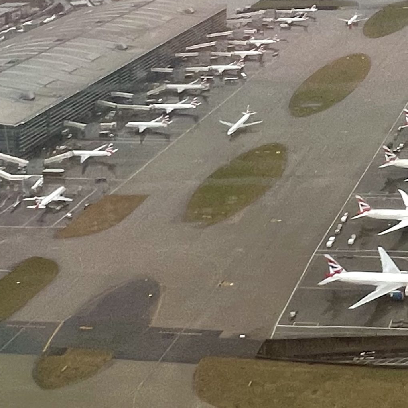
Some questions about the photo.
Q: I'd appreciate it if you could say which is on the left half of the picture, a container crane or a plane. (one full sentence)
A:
Visible on the left half of the picture is a plane.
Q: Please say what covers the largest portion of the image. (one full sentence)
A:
What you mostly see from above here is paved ground.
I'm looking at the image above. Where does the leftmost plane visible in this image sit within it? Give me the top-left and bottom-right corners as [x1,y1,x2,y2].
[29,187,69,206]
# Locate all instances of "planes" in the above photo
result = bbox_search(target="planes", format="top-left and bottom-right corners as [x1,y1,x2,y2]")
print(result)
[75,143,120,162]
[277,13,310,23]
[319,248,408,312]
[354,188,408,236]
[343,13,366,23]
[220,104,263,136]
[379,146,408,168]
[210,60,248,72]
[125,115,173,132]
[29,187,69,206]
[248,34,279,46]
[231,46,265,57]
[168,77,213,94]
[152,95,202,113]
[292,5,318,13]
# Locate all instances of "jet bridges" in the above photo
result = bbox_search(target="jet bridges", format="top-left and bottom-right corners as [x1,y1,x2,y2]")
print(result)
[26,178,46,193]
[227,18,253,27]
[228,41,251,49]
[262,19,277,26]
[186,41,216,53]
[0,152,32,171]
[210,53,235,61]
[110,91,134,104]
[146,83,171,96]
[96,99,155,113]
[151,68,174,77]
[207,30,233,41]
[43,148,79,166]
[175,53,199,62]
[0,168,29,187]
[235,9,264,16]
[185,67,214,75]
[62,120,88,132]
